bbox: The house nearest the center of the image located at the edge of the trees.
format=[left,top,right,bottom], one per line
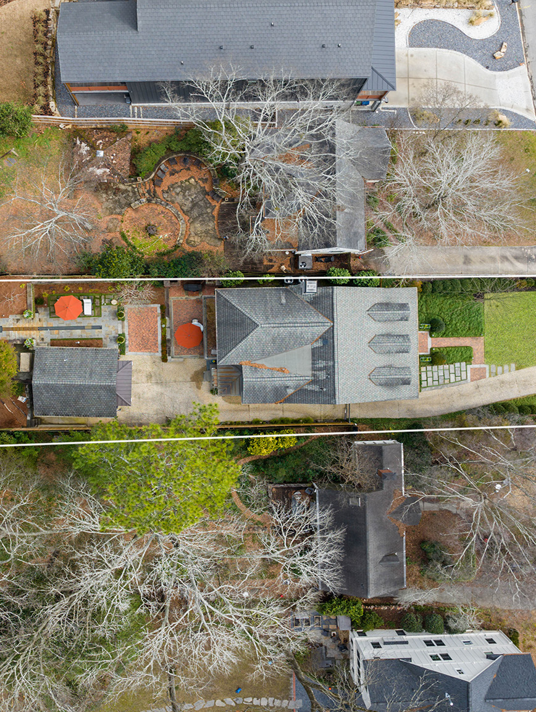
[215,279,420,405]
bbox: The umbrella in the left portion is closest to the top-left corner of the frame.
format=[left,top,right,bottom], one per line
[53,293,82,321]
